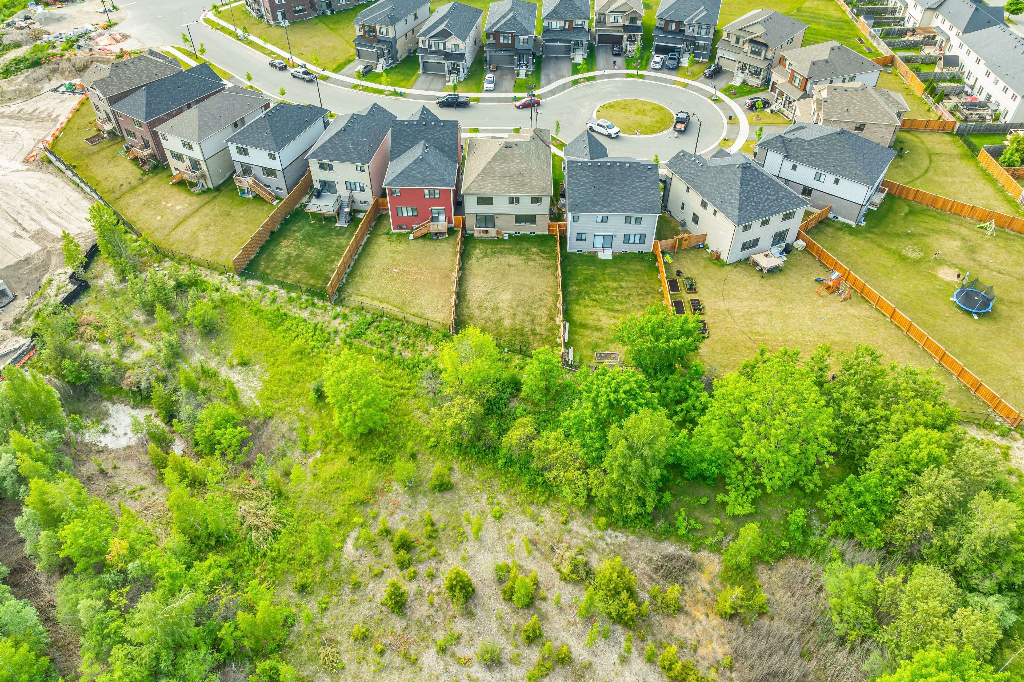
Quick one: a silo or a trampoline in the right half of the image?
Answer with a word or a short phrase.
trampoline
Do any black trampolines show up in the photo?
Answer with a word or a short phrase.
No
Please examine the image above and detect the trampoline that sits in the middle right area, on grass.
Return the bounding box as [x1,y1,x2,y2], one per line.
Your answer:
[957,278,997,313]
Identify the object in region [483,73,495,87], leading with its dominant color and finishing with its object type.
white vehicle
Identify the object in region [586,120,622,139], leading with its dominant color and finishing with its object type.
white vehicle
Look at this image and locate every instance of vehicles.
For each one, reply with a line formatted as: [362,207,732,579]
[265,58,290,69]
[675,109,691,129]
[514,96,542,109]
[611,41,623,54]
[436,94,469,109]
[353,62,377,75]
[667,50,680,65]
[586,120,622,139]
[746,94,773,108]
[704,62,724,76]
[652,52,665,66]
[286,65,317,81]
[483,73,495,87]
